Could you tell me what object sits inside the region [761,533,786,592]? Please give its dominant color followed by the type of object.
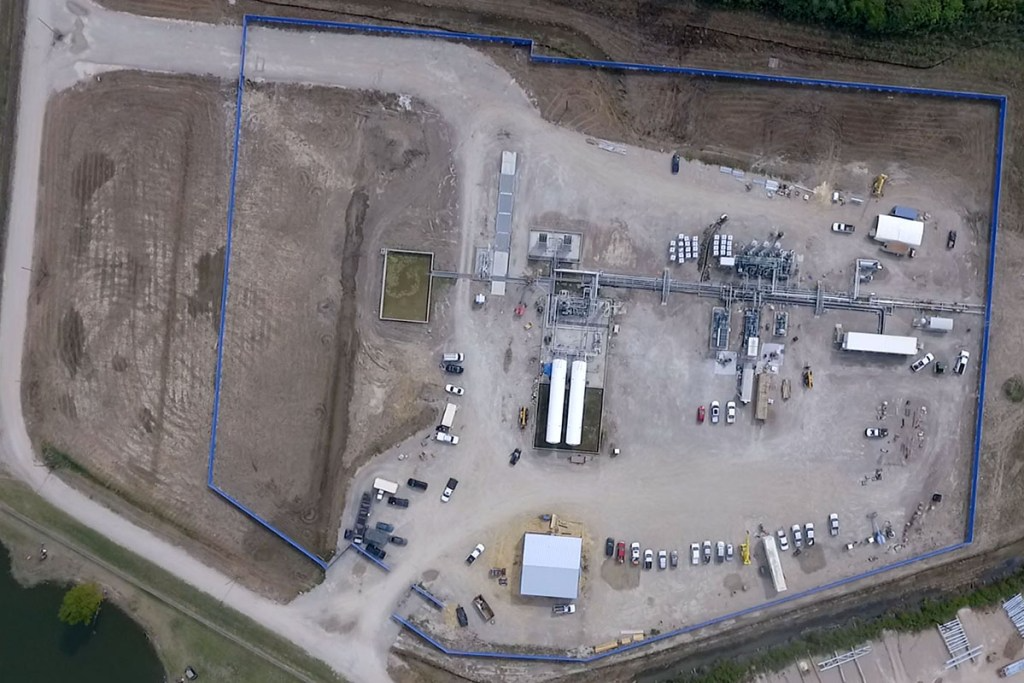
white trailer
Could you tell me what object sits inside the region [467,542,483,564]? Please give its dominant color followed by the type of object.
white vehicle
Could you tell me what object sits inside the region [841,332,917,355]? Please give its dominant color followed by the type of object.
white trailer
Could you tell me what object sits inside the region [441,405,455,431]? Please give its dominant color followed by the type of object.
white vehicle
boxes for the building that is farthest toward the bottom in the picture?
[519,530,583,599]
